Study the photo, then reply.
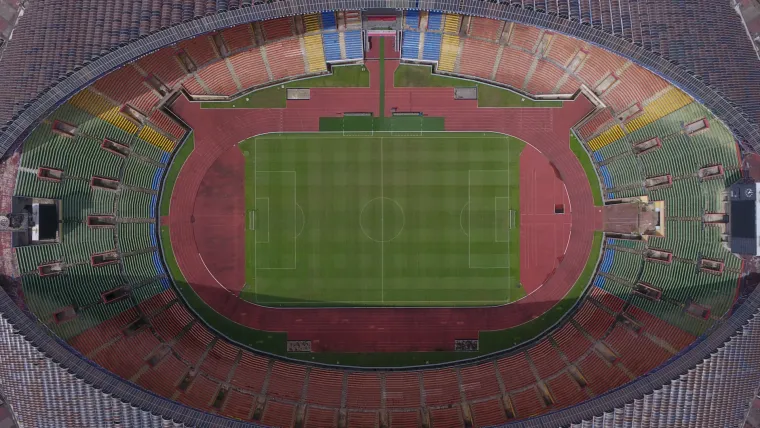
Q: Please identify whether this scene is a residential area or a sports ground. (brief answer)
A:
sports ground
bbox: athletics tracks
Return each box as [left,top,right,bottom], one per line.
[161,34,605,352]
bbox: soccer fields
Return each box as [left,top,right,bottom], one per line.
[238,133,526,307]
